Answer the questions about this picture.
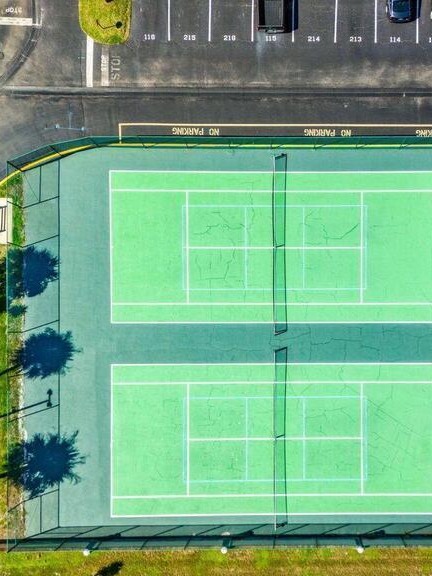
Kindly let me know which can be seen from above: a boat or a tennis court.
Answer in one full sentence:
It is a tennis court that can be seen here.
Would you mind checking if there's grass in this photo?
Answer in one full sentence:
Yes, the picture does contain grass.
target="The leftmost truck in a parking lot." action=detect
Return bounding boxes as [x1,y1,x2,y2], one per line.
[259,0,286,29]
